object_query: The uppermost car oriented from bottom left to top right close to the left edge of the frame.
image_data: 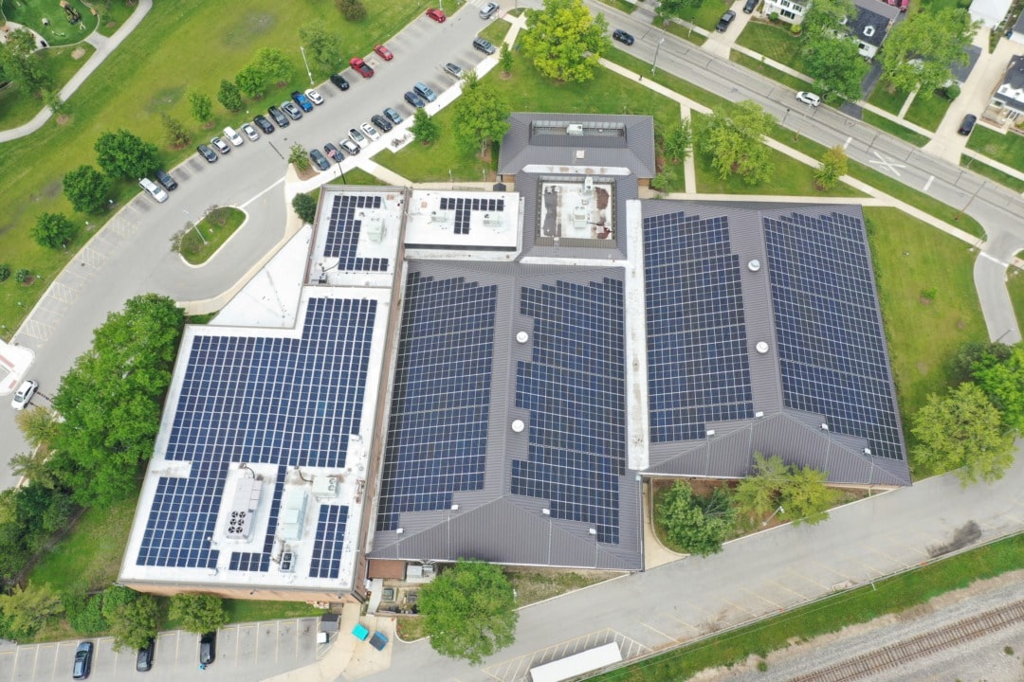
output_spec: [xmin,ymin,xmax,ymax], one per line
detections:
[10,378,40,411]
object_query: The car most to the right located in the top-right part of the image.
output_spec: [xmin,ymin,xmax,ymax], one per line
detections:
[957,113,977,137]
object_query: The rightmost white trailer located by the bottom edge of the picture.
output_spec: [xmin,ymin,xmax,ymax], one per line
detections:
[530,643,622,682]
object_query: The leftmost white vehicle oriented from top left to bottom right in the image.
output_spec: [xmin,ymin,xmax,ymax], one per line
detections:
[140,176,166,202]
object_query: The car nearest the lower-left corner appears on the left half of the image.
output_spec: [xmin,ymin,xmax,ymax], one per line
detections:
[69,641,95,681]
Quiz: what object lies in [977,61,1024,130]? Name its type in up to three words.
house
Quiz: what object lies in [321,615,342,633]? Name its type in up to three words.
shed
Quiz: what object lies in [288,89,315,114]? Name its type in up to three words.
truck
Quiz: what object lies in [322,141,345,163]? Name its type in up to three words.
car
